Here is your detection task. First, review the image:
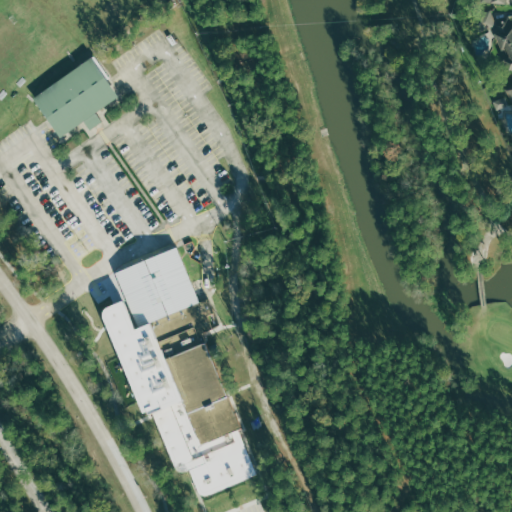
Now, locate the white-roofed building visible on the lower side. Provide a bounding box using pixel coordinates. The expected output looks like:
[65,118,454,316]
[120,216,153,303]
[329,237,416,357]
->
[105,248,257,494]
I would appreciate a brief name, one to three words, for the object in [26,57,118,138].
building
